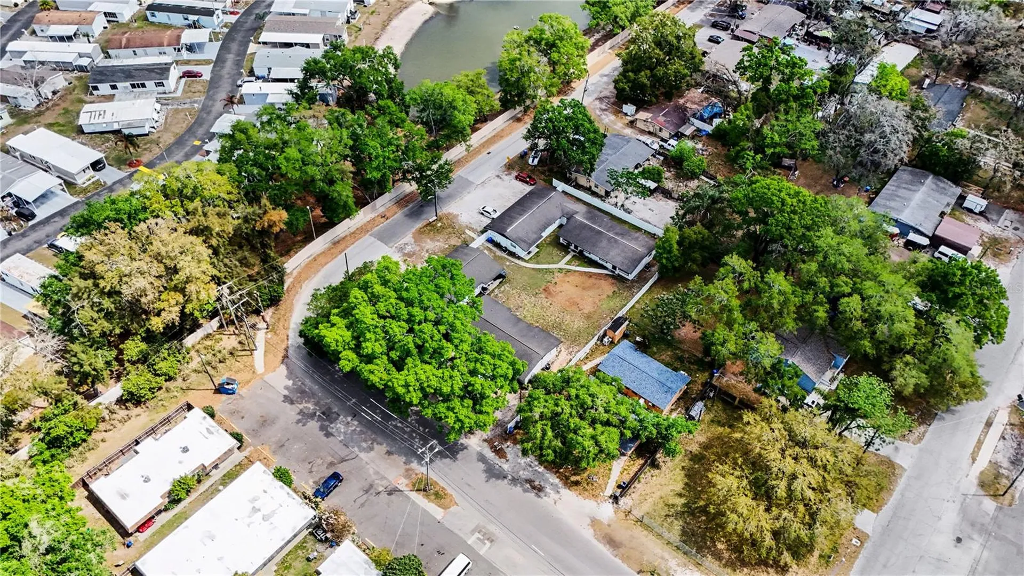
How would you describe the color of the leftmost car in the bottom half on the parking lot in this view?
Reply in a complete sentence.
In this view, the leftmost car in the bottom half on the parking lot is blue.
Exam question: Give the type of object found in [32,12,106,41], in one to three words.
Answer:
house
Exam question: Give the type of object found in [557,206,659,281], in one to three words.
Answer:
building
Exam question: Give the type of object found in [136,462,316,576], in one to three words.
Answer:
building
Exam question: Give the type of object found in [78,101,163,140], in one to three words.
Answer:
house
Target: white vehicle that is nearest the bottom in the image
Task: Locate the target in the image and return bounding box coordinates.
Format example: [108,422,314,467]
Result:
[437,550,470,576]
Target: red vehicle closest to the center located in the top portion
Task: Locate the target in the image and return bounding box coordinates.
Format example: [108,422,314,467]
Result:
[516,172,535,184]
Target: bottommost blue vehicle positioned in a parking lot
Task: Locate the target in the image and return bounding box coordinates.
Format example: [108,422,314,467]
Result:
[312,470,341,501]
